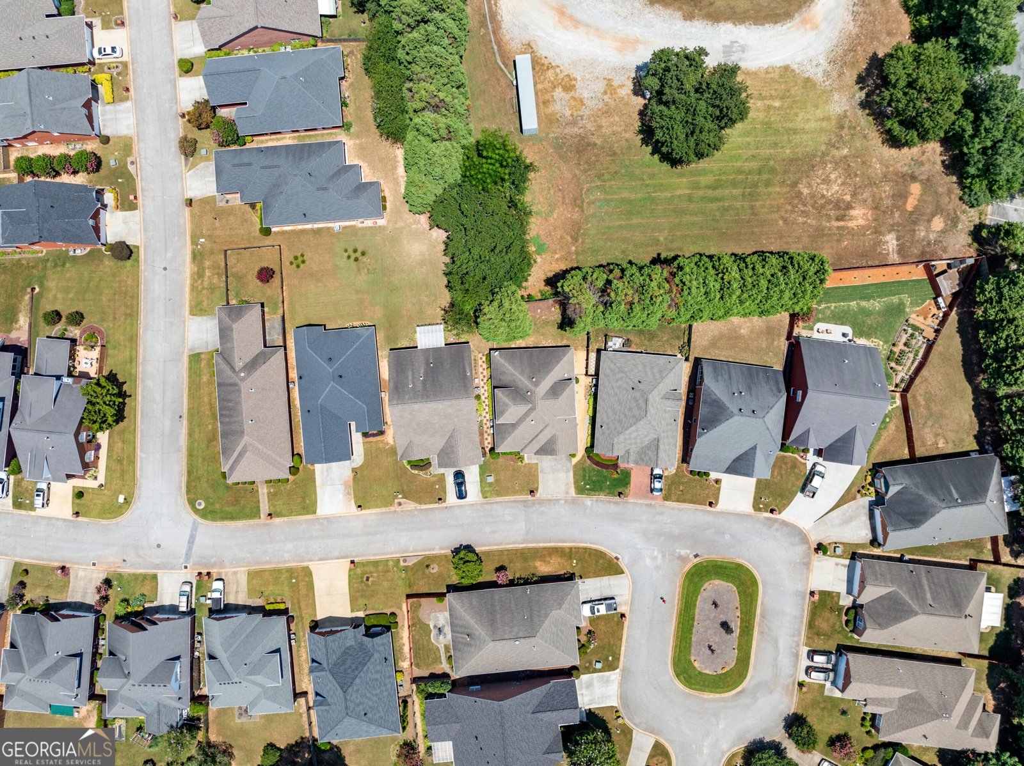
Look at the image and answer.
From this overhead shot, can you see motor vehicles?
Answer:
Yes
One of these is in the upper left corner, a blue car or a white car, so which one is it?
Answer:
white car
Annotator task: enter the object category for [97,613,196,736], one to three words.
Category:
house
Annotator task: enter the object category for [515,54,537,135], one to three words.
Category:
trailer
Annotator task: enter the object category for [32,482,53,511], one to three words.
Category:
car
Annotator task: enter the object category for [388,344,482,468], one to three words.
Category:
house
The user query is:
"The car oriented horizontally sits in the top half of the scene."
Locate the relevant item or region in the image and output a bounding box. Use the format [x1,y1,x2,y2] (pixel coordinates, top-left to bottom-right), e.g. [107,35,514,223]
[92,44,124,60]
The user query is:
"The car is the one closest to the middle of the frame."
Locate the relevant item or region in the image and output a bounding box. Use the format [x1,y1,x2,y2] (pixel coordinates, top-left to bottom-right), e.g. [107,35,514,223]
[452,471,467,501]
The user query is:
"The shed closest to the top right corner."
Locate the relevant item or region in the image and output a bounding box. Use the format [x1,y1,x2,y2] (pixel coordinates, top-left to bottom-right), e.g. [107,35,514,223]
[927,269,962,298]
